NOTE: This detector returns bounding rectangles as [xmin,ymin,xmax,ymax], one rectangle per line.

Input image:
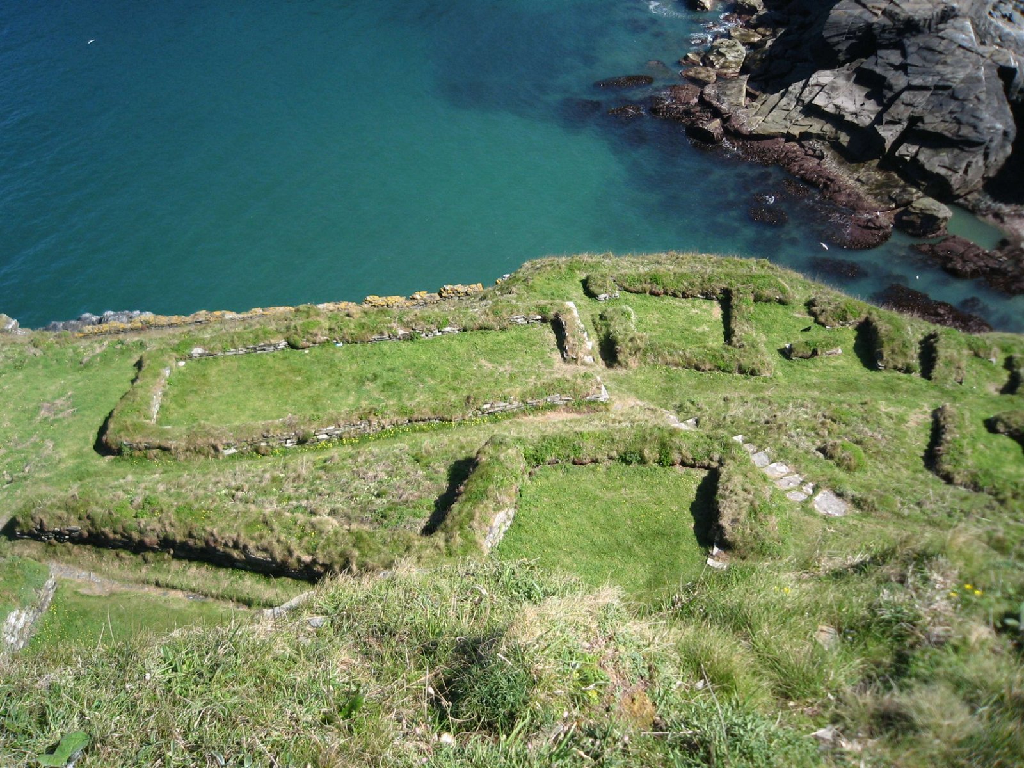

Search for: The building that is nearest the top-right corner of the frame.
[586,273,798,385]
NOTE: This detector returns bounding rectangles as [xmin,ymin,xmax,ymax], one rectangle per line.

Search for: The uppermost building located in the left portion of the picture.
[98,303,615,469]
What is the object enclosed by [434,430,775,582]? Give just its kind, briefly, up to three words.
building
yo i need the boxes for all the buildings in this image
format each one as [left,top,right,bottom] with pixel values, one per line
[98,303,615,469]
[586,273,798,385]
[434,430,775,582]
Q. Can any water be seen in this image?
Yes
